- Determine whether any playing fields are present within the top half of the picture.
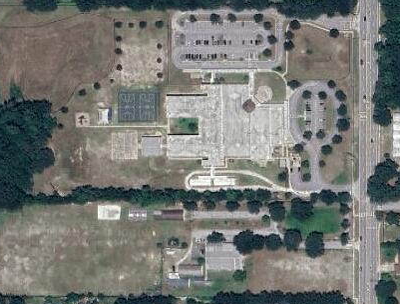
Yes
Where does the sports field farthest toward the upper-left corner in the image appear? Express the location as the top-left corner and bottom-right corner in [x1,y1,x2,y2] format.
[0,14,116,104]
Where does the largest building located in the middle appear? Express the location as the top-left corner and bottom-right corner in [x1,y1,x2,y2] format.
[166,83,287,167]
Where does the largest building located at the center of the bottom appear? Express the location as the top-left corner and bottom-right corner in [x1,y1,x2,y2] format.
[207,241,245,271]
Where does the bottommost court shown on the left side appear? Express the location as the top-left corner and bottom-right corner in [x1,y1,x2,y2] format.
[111,131,138,159]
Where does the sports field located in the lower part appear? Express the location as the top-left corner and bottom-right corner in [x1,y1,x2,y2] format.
[0,205,161,296]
